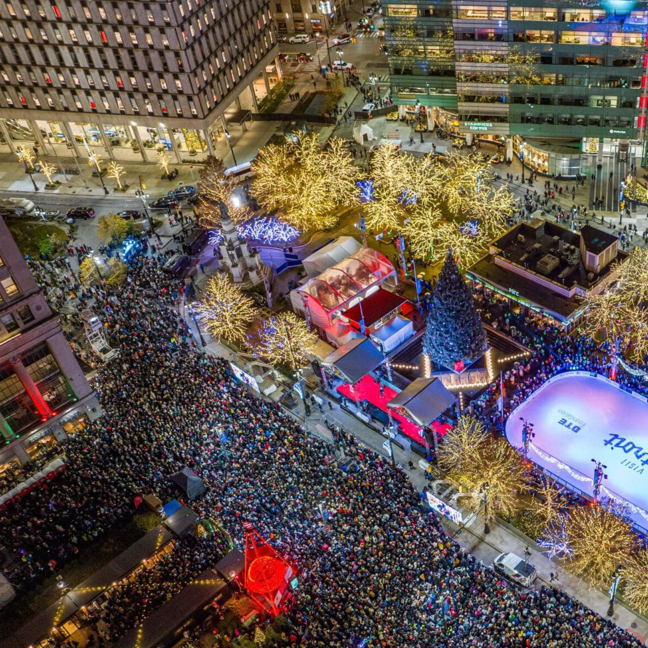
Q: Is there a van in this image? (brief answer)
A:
Yes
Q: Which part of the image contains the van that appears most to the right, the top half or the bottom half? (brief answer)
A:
bottom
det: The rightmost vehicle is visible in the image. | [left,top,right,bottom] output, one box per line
[489,547,543,588]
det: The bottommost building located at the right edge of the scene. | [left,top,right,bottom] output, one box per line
[467,214,630,328]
